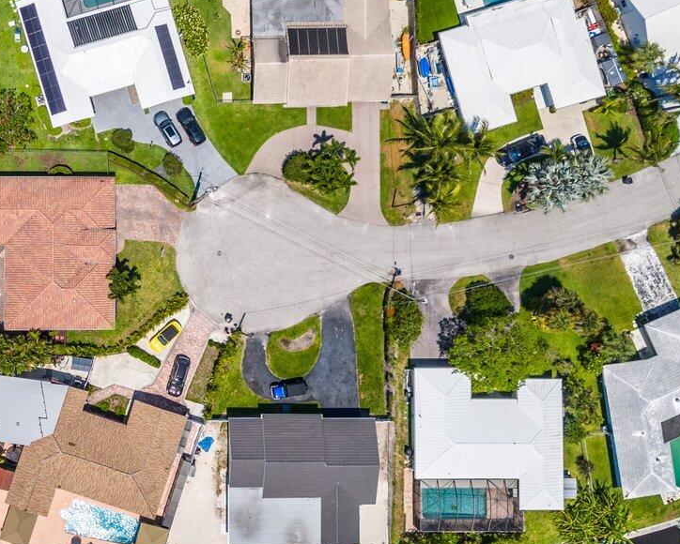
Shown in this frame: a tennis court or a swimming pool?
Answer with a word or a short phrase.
swimming pool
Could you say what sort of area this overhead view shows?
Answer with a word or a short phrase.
residential area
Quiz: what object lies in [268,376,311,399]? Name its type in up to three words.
truck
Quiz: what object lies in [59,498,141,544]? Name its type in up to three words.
swimming pool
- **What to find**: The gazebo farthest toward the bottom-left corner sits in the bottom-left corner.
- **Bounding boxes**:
[1,505,38,544]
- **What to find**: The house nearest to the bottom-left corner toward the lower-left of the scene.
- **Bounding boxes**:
[0,378,188,519]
